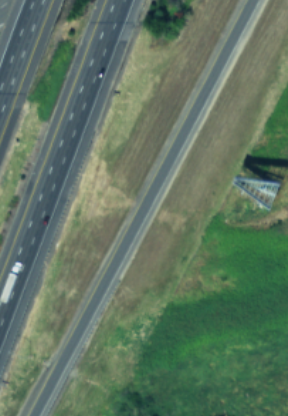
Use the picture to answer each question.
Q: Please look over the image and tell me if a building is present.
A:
No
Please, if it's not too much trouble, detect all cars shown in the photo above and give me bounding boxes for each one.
[43,214,50,226]
[98,68,106,78]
